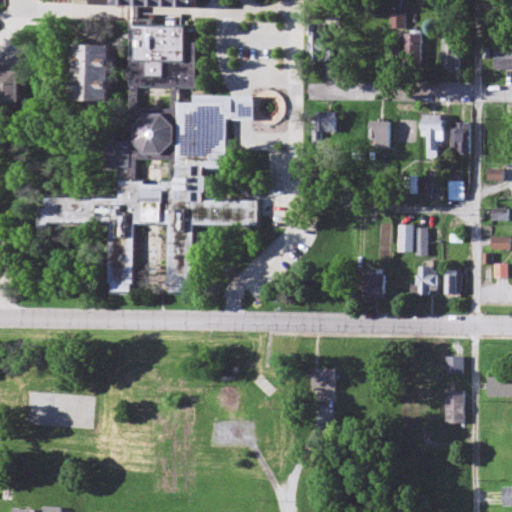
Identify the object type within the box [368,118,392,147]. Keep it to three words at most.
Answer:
house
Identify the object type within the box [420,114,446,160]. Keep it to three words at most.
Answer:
house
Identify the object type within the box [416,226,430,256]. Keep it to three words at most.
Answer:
building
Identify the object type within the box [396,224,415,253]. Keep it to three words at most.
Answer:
building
